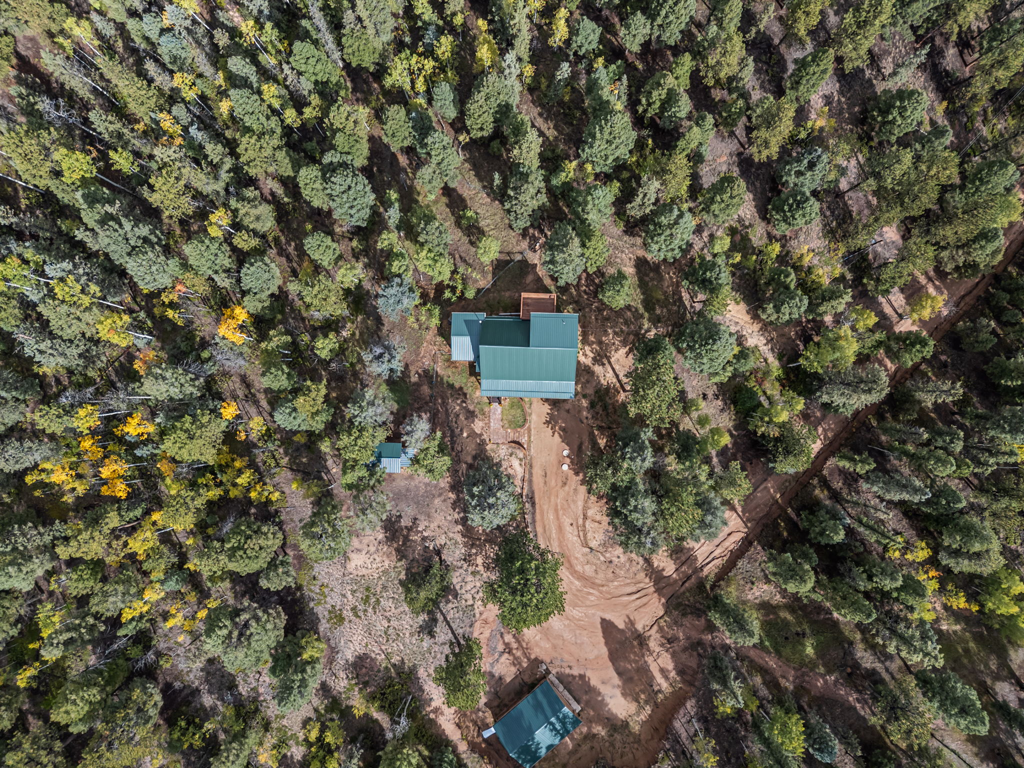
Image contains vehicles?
No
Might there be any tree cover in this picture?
Yes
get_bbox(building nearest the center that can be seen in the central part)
[451,293,579,400]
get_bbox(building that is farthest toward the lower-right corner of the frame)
[482,674,583,768]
